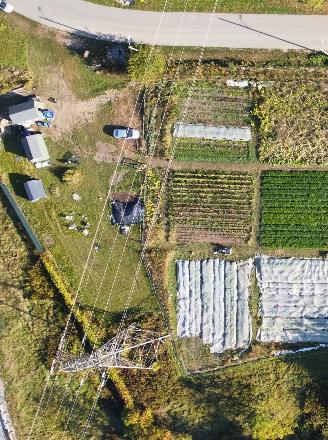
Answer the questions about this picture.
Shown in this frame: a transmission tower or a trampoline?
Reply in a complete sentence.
Visible in the photo is a transmission tower.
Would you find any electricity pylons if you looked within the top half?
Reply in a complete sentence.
No, no electricity pylon appears within the top half.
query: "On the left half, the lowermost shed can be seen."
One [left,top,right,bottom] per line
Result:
[21,179,51,202]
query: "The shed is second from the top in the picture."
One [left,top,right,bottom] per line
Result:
[18,134,52,165]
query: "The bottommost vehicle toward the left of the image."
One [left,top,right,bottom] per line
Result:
[113,129,141,141]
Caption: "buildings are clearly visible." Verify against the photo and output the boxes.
[18,134,52,165]
[3,97,44,125]
[21,179,51,202]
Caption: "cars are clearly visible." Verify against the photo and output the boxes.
[0,0,14,13]
[113,129,141,141]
